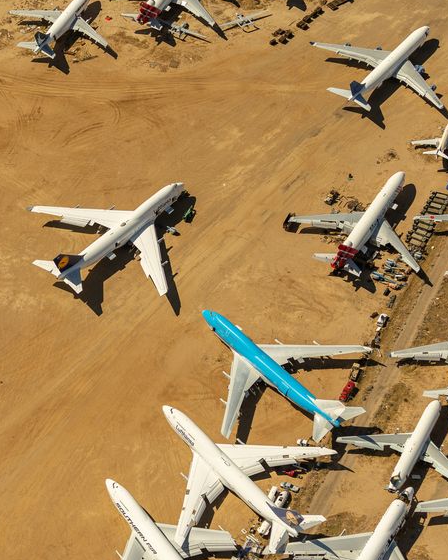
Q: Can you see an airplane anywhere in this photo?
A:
Yes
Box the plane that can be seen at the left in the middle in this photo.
[22,184,185,297]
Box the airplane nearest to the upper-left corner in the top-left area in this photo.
[8,0,106,58]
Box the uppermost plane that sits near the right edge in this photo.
[305,26,447,111]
